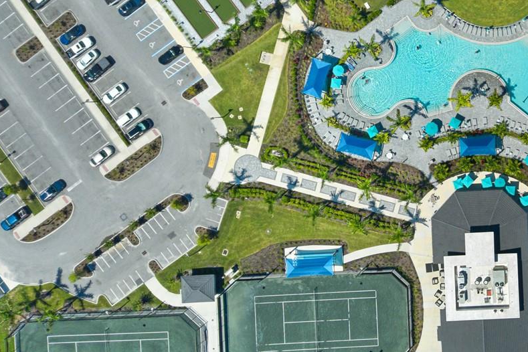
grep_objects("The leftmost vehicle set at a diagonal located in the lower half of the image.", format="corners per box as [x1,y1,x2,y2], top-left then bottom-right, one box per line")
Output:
[1,205,32,230]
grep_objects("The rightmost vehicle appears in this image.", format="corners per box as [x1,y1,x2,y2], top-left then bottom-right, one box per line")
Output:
[158,45,183,66]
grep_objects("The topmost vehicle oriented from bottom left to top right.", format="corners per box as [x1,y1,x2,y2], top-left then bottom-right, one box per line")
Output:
[119,0,144,17]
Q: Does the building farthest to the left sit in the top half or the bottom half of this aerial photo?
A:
bottom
